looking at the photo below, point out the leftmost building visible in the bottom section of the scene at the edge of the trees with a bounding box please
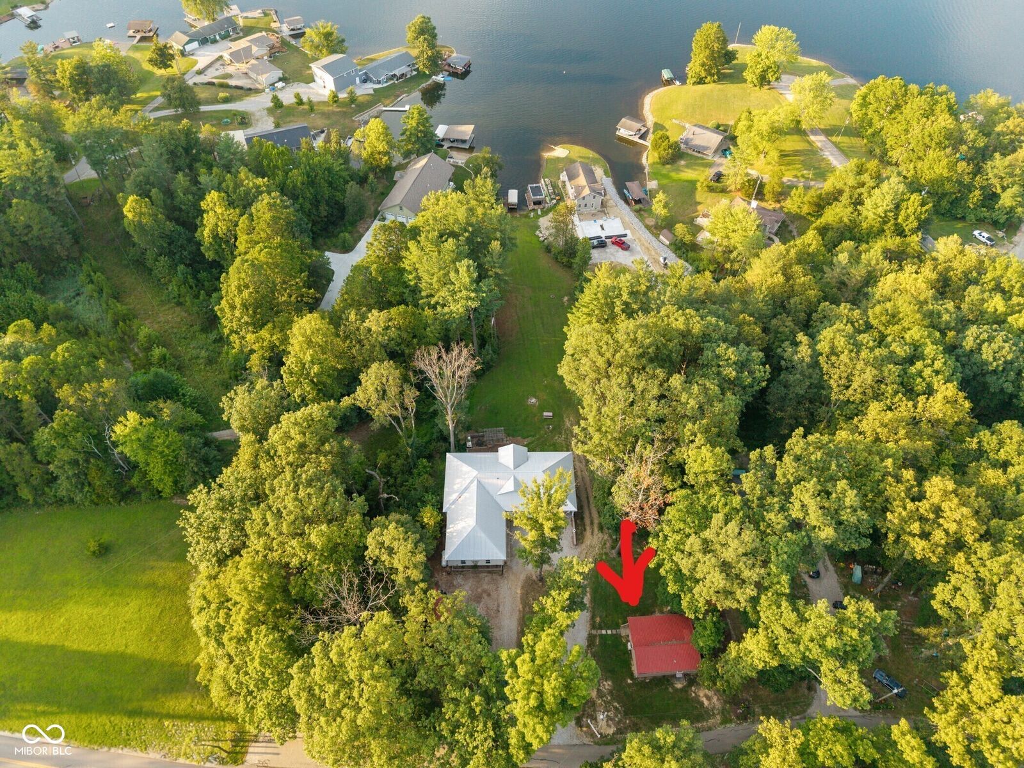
[442,443,579,578]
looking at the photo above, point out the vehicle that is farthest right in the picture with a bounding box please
[969,228,1001,246]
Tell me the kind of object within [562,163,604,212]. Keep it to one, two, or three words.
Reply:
house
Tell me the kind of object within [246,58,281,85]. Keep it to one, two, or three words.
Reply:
building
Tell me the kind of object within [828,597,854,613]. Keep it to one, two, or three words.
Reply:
car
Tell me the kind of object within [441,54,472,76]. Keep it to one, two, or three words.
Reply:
building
